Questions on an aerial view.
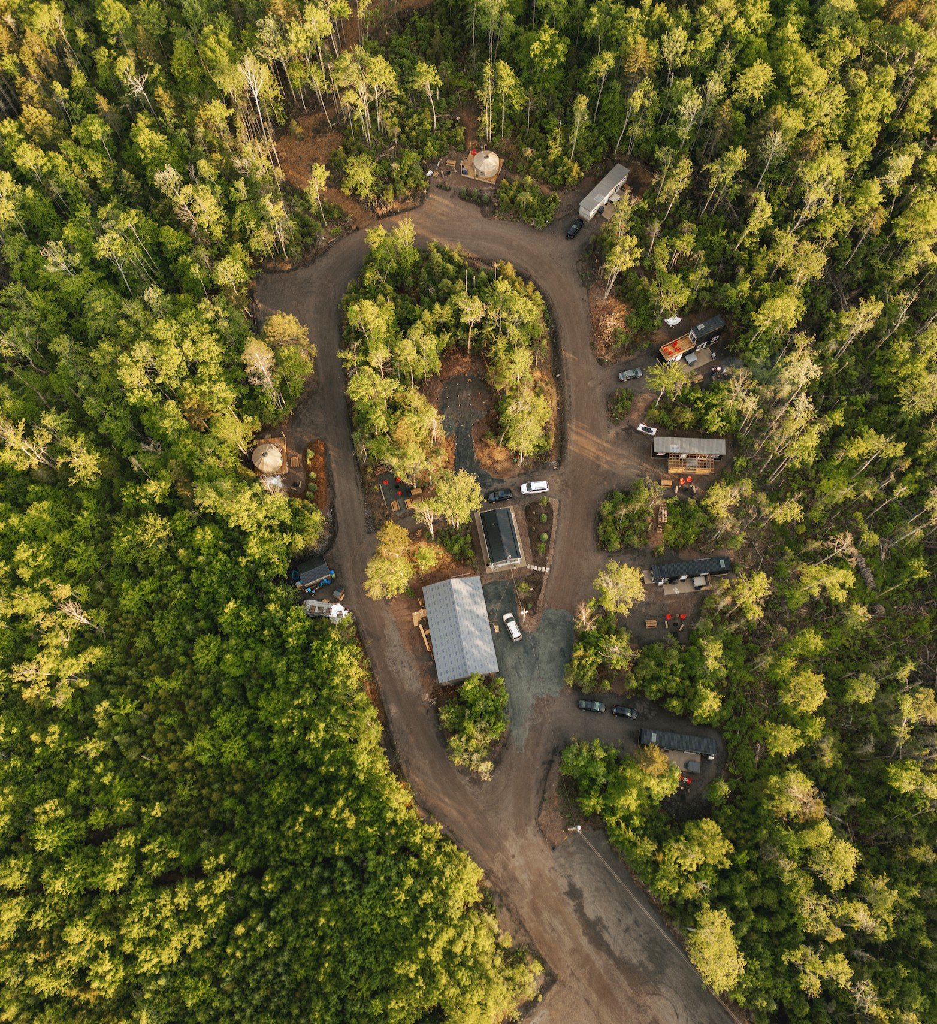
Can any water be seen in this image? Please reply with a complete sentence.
No, no water is visible.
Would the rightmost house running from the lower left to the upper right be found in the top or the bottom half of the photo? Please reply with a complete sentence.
The top half of the photo is where the rightmost house running from the lower left to the upper right is.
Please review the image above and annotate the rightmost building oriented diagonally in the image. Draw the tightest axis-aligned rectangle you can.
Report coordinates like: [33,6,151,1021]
[657,314,726,365]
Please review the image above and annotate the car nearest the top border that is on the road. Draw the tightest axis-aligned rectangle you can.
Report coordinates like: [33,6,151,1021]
[565,219,584,239]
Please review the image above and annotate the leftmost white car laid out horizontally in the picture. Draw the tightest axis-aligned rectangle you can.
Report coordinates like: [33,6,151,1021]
[520,481,549,495]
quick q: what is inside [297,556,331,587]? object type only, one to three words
shed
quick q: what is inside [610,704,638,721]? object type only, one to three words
car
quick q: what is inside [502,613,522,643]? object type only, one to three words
car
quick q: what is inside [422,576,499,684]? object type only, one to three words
building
